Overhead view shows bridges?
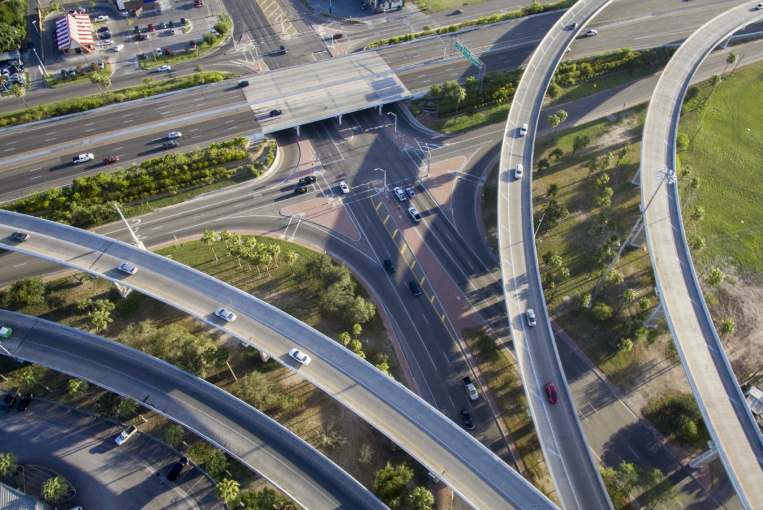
Yes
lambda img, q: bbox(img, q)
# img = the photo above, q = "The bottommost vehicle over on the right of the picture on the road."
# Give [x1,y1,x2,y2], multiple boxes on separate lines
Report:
[460,408,475,430]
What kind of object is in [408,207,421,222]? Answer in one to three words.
vehicle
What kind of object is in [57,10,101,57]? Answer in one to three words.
building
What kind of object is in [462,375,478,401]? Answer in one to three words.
vehicle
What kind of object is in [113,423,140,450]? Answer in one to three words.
truck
